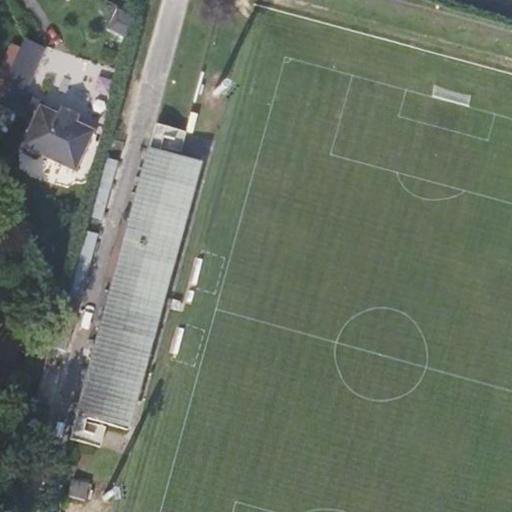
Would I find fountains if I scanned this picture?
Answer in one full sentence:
No, no fountain is visible in the view.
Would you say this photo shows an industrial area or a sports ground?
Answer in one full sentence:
The area seen from above is a sports ground.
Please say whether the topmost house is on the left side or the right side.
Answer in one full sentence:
It is on the left.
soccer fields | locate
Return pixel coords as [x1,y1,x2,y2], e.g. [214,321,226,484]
[134,10,512,512]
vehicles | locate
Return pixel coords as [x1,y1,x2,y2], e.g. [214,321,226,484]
[46,26,61,47]
[55,422,64,438]
[80,304,94,332]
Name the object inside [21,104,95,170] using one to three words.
house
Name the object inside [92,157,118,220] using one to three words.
shed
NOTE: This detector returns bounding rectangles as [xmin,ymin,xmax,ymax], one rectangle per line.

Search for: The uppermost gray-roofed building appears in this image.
[101,4,133,42]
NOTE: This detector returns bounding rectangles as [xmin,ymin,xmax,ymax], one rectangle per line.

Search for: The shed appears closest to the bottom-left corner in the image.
[68,480,90,502]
